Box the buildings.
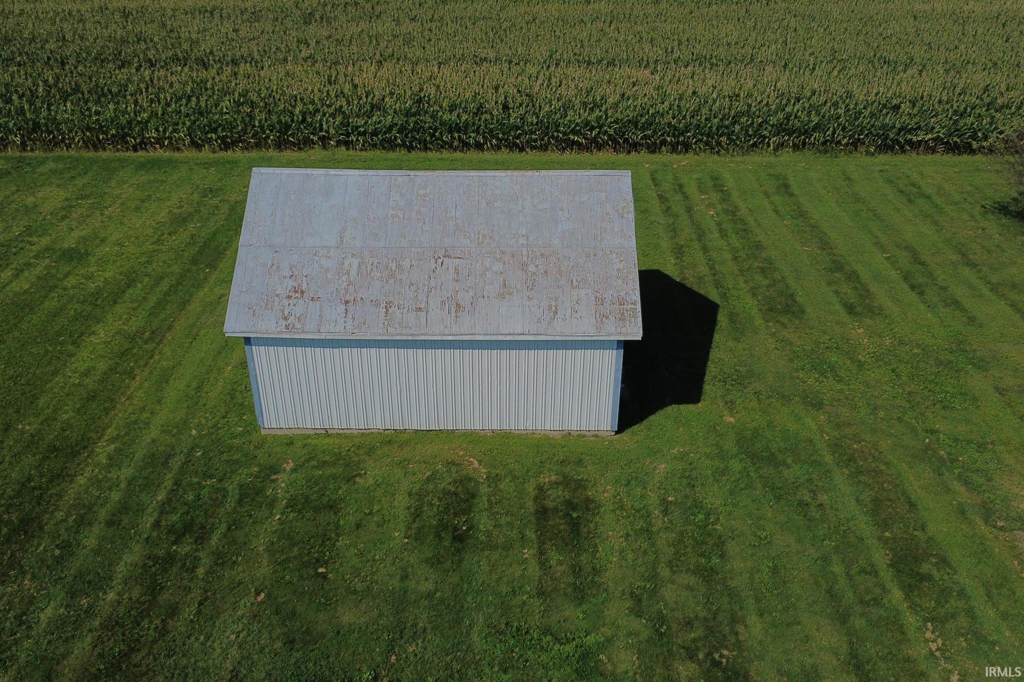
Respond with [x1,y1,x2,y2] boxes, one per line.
[224,165,643,437]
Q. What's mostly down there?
grass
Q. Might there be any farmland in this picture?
Yes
